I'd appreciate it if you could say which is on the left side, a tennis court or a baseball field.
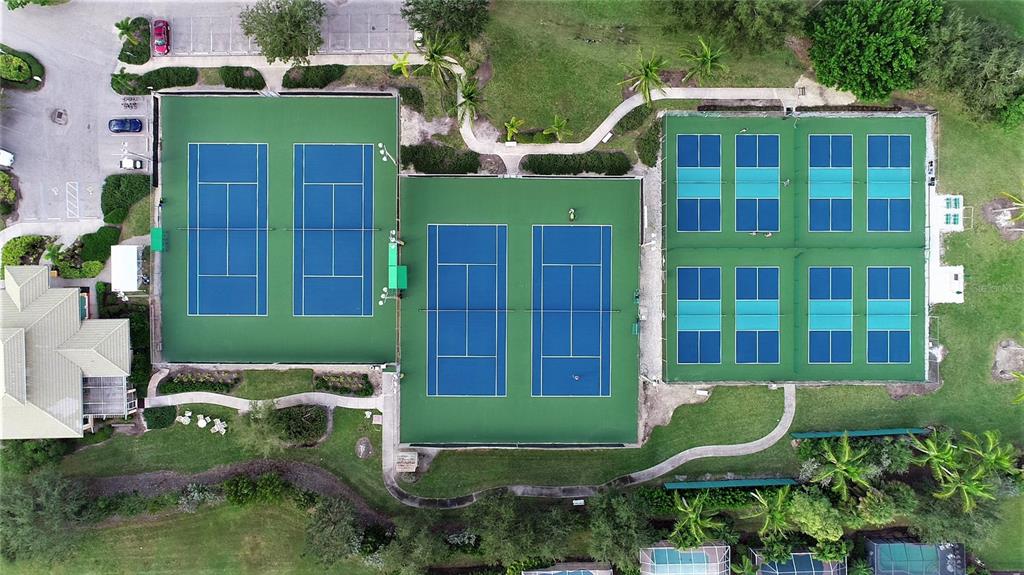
tennis court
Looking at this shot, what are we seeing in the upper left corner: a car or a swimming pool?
car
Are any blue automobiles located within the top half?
Yes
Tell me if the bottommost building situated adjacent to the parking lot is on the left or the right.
left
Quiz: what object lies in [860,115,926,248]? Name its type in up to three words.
sports court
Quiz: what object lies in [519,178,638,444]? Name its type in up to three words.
tennis court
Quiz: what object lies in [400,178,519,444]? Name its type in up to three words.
tennis court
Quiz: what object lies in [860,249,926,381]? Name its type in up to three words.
sports court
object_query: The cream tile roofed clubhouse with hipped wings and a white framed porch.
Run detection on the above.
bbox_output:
[0,264,147,439]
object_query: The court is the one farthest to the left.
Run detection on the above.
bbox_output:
[161,95,281,363]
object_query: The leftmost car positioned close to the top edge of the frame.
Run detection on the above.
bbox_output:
[150,18,170,55]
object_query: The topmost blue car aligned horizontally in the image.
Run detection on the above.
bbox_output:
[108,117,143,133]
